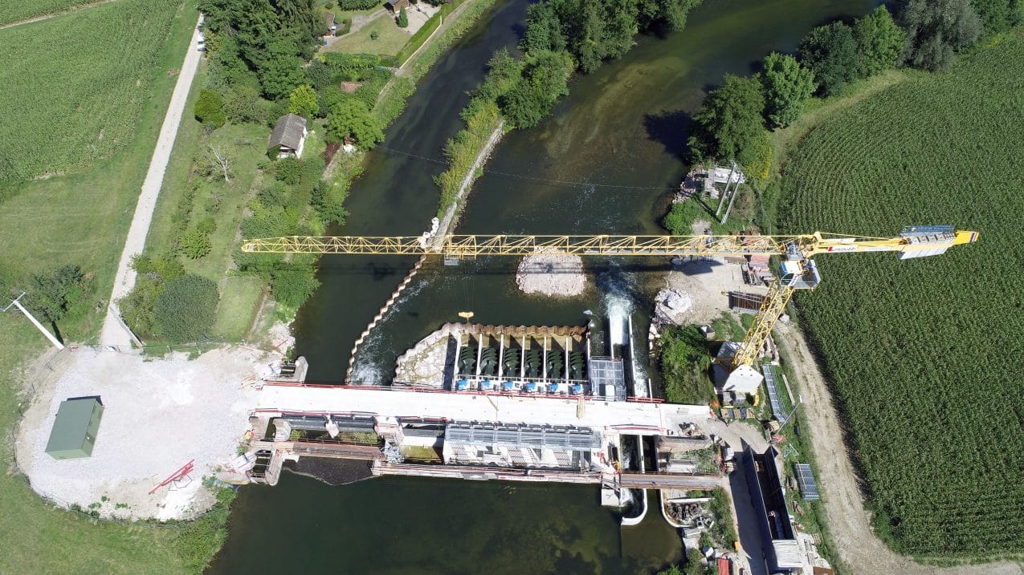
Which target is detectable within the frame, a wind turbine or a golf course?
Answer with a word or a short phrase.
wind turbine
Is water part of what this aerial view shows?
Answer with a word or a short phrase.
Yes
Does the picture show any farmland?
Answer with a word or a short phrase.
Yes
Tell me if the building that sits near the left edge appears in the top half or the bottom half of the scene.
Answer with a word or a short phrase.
bottom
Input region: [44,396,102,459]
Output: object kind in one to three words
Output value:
building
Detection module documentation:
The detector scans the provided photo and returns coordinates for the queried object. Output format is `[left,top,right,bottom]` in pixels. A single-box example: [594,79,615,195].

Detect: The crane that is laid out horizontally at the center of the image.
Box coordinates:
[243,217,976,397]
